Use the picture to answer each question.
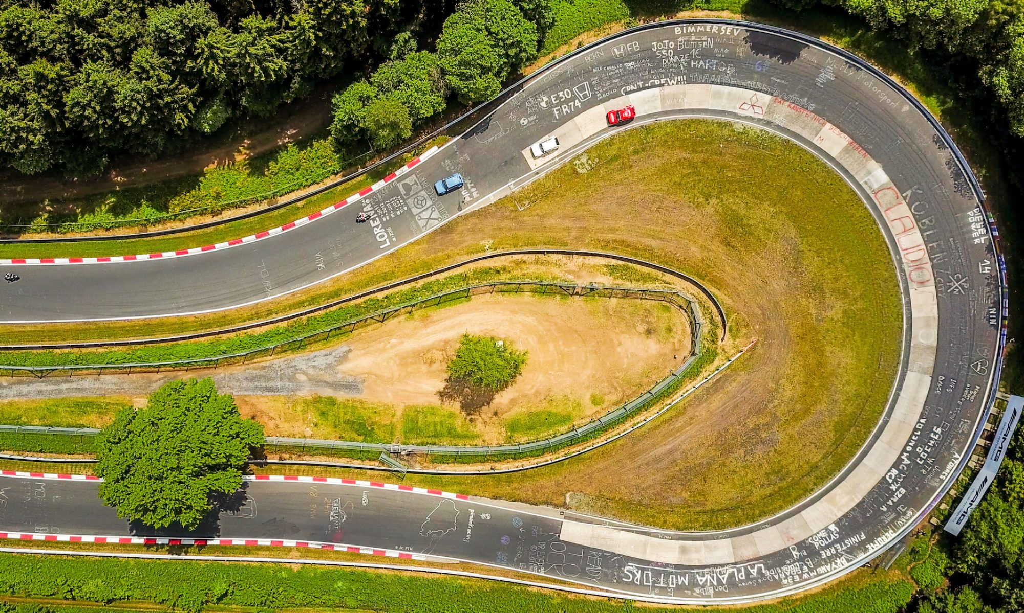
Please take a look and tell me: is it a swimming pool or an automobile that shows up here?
automobile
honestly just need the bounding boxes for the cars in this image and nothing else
[529,136,561,158]
[434,174,466,195]
[604,108,637,127]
